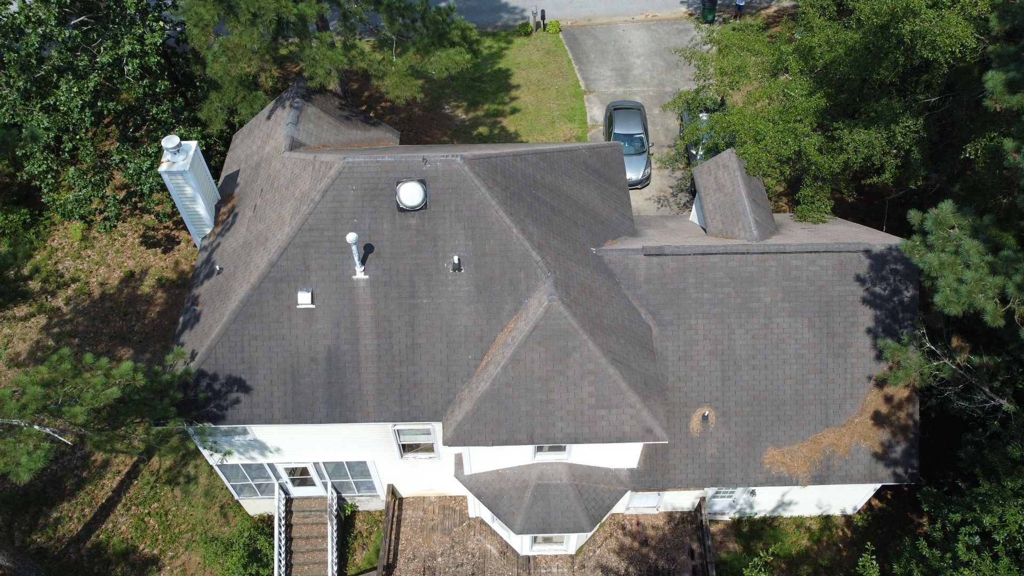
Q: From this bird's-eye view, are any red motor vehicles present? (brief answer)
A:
No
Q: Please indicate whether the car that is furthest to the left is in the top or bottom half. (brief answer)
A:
top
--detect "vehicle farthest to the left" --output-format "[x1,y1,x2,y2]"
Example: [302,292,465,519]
[599,101,656,193]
